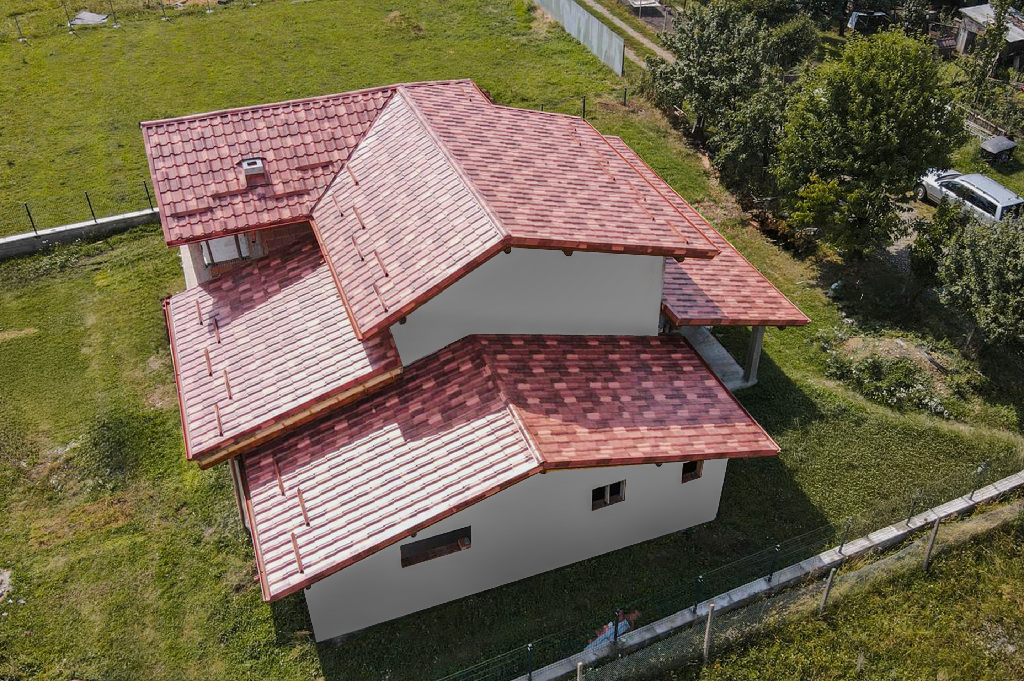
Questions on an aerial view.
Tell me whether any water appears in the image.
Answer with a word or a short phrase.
No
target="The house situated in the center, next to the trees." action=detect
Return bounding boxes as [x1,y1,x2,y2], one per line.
[141,75,812,643]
